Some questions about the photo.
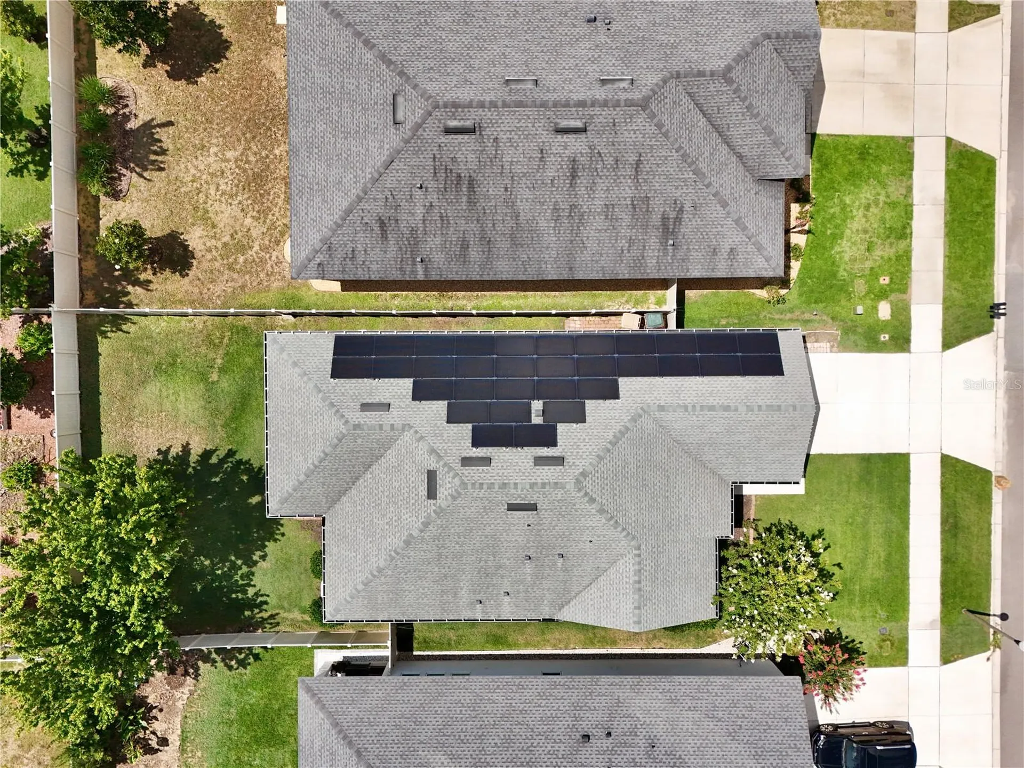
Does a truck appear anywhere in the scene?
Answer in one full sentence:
No, the scene contains no truck.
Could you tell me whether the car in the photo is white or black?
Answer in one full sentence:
The car is black.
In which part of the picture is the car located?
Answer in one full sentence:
The car is located in the bottom right region of the scene.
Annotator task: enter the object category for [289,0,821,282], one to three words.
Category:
house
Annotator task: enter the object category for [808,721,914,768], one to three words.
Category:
car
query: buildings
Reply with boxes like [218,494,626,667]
[289,0,821,282]
[264,326,818,632]
[295,659,813,768]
